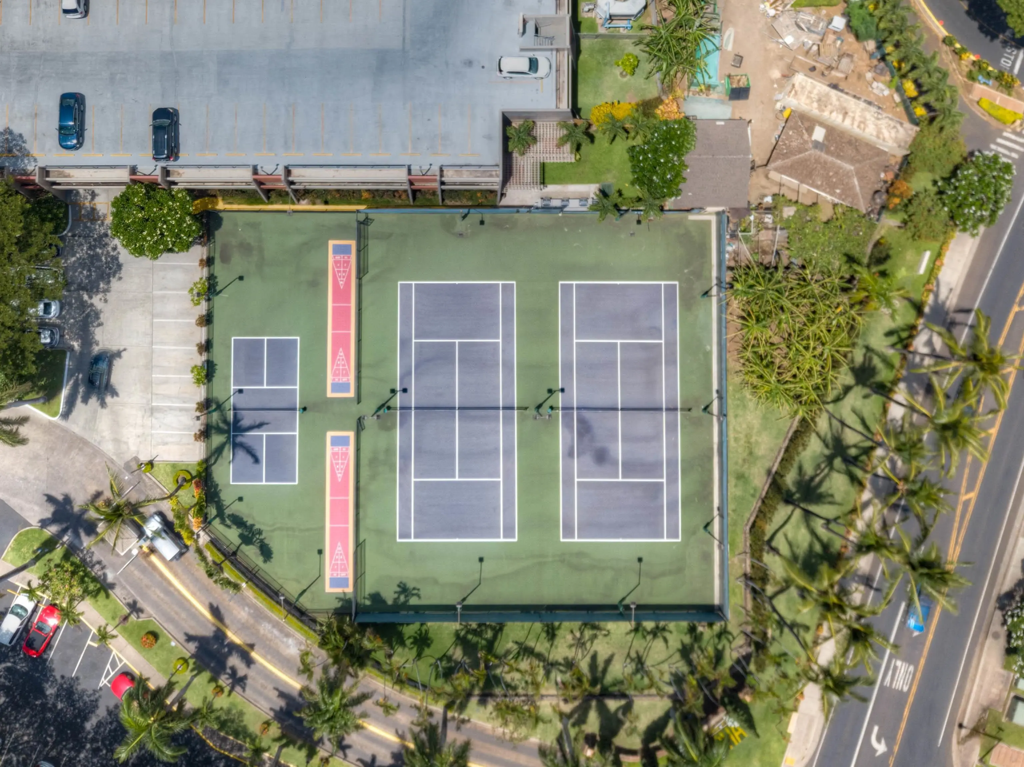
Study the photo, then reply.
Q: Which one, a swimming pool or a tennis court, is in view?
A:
tennis court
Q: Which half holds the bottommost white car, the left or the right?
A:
left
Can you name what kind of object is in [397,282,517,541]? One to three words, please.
tennis court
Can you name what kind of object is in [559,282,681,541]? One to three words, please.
tennis court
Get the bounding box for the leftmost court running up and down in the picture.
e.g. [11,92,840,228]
[230,337,300,484]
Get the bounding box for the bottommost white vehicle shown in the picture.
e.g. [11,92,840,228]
[0,594,37,647]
